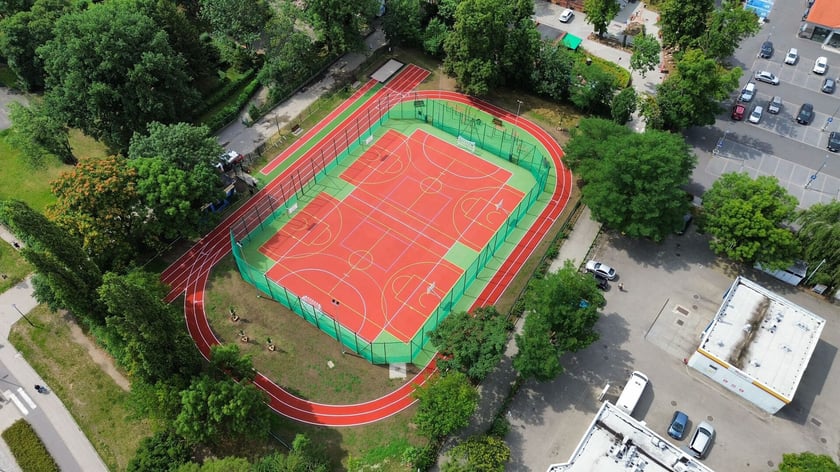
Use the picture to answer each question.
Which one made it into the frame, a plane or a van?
van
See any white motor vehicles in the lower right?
Yes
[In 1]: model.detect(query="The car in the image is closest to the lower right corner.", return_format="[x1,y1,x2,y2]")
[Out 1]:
[691,421,714,463]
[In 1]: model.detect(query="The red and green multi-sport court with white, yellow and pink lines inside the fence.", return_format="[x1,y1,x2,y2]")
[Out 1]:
[235,101,555,384]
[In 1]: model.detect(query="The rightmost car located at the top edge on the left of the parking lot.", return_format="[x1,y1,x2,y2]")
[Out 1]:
[560,7,573,21]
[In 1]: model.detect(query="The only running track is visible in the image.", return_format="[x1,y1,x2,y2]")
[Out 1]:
[155,63,570,422]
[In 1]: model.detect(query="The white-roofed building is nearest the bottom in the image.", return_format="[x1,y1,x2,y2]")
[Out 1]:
[554,399,717,472]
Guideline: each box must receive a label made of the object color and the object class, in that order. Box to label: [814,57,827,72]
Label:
white vehicle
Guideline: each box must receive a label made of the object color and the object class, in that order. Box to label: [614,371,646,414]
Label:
white van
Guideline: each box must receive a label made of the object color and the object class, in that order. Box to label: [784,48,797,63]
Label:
white vehicle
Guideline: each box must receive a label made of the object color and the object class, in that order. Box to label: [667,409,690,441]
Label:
blue car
